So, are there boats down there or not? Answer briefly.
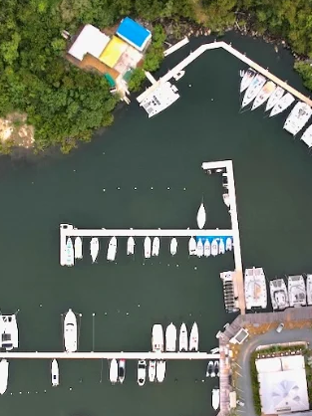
Yes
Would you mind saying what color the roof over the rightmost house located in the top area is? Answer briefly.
blue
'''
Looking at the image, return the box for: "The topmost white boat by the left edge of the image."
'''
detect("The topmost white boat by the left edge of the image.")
[0,315,19,349]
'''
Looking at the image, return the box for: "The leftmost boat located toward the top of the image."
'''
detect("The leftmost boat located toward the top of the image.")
[116,75,131,104]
